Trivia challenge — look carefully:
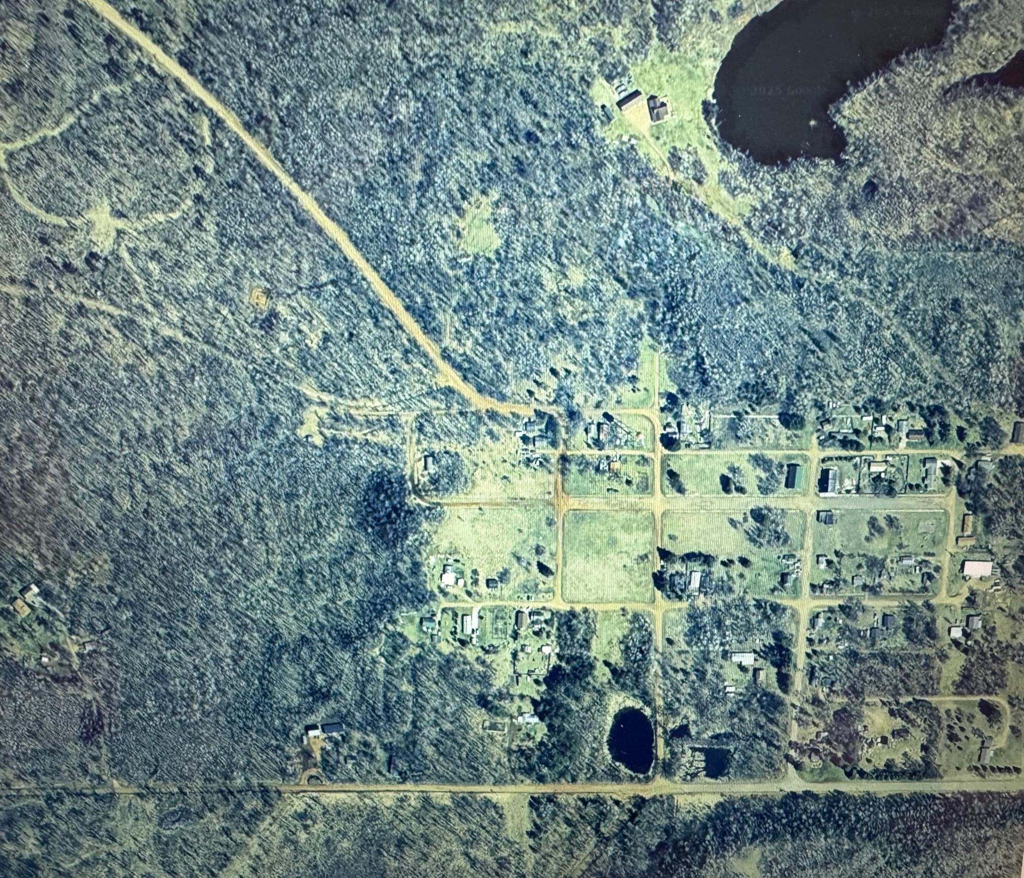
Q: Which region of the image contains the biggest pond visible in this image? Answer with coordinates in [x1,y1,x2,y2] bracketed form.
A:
[607,706,655,773]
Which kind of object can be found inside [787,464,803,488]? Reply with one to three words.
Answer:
barn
